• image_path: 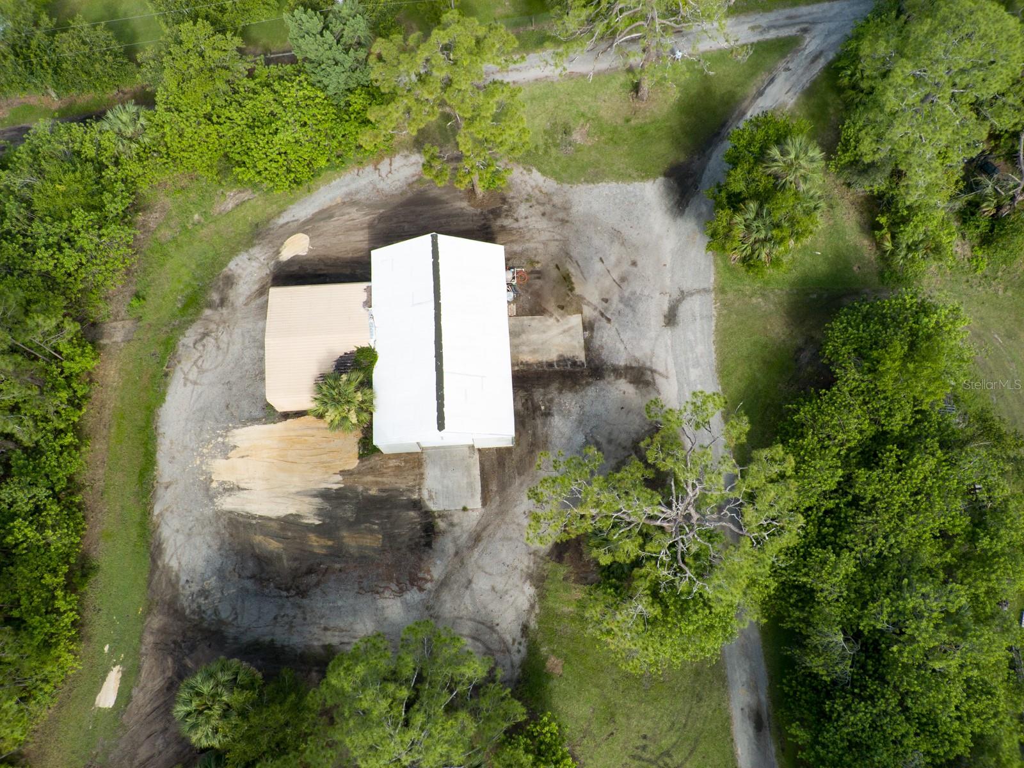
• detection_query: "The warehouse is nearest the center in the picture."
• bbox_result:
[372,236,514,450]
